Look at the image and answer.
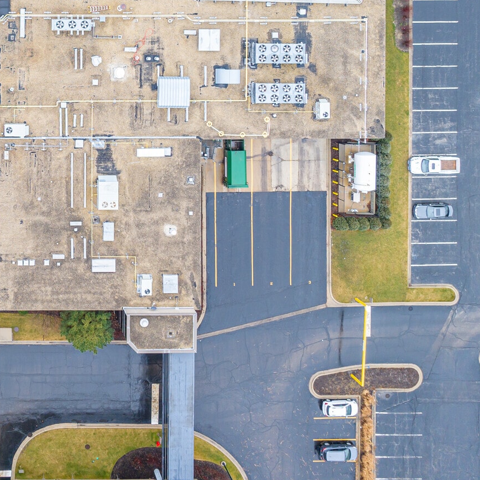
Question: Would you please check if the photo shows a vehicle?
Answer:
Yes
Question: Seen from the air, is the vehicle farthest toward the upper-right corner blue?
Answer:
No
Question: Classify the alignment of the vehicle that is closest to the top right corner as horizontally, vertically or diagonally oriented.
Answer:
horizontally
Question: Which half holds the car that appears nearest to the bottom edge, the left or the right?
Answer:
right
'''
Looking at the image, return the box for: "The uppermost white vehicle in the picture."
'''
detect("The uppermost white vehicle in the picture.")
[408,156,461,175]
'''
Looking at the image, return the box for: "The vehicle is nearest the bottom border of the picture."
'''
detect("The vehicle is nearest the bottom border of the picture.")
[318,439,355,460]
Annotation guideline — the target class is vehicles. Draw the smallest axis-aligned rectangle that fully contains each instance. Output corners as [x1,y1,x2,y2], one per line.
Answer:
[410,202,452,221]
[321,397,356,418]
[408,156,461,175]
[318,439,355,460]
